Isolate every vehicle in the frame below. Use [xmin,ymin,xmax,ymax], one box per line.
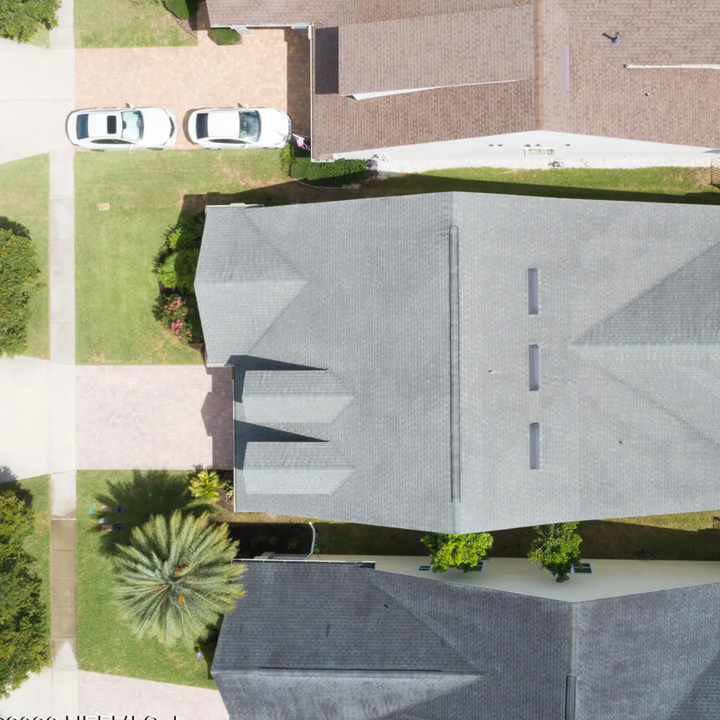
[68,106,179,151]
[187,106,293,151]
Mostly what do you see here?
buildings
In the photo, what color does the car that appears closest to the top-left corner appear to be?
white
